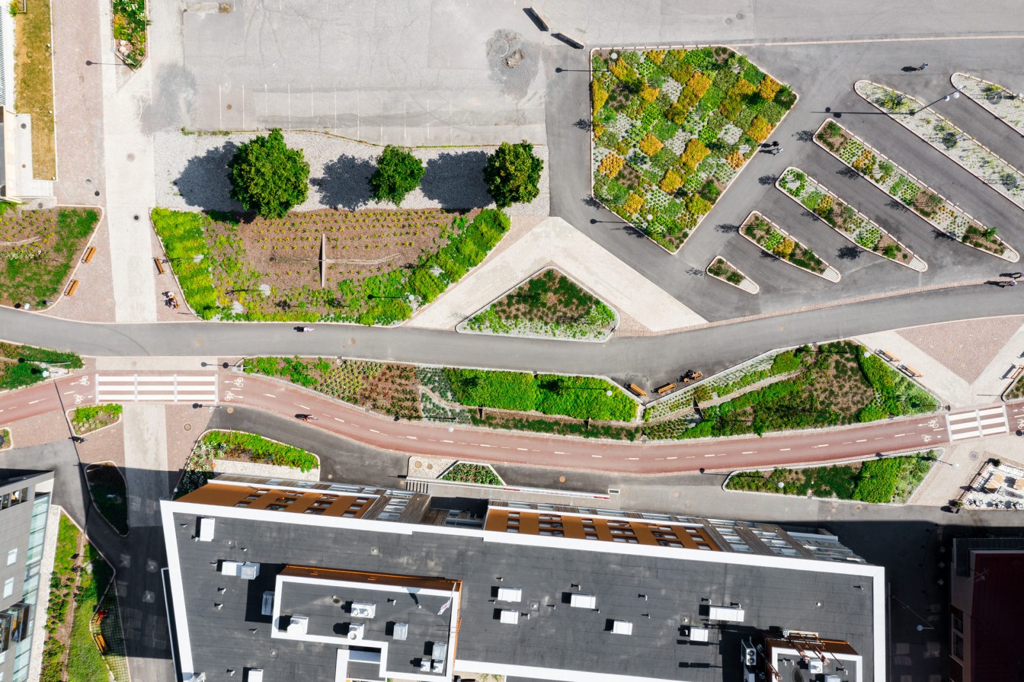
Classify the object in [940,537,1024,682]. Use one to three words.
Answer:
building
